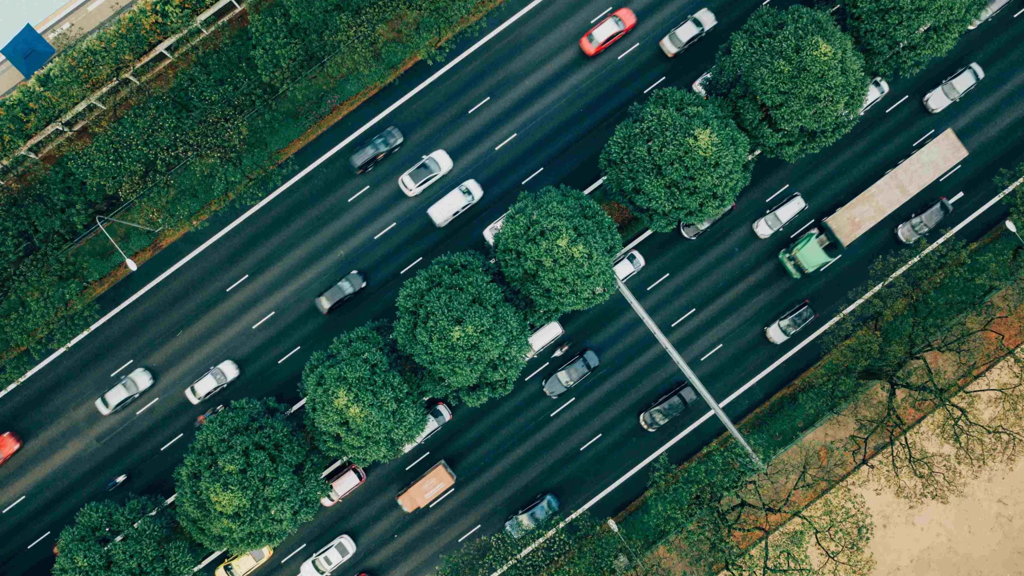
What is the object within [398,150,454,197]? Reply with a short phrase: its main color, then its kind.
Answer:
white car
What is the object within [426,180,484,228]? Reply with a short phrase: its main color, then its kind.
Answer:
white van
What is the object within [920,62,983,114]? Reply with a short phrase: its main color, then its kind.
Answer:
white car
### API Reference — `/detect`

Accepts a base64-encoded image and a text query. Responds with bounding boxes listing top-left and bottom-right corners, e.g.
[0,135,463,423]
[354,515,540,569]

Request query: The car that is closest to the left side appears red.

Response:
[0,435,23,468]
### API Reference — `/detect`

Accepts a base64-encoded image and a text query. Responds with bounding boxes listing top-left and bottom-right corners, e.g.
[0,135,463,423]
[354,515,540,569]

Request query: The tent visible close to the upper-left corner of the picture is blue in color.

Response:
[0,23,67,80]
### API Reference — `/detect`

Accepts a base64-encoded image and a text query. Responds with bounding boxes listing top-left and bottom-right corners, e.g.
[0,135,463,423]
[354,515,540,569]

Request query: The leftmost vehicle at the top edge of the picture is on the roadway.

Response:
[579,9,637,59]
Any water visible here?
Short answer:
No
